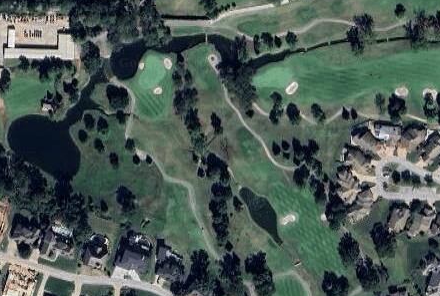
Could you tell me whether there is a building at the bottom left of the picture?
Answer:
Yes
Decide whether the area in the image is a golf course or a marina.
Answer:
golf course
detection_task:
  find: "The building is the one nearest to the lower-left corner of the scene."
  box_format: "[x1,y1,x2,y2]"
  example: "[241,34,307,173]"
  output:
[6,264,37,296]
